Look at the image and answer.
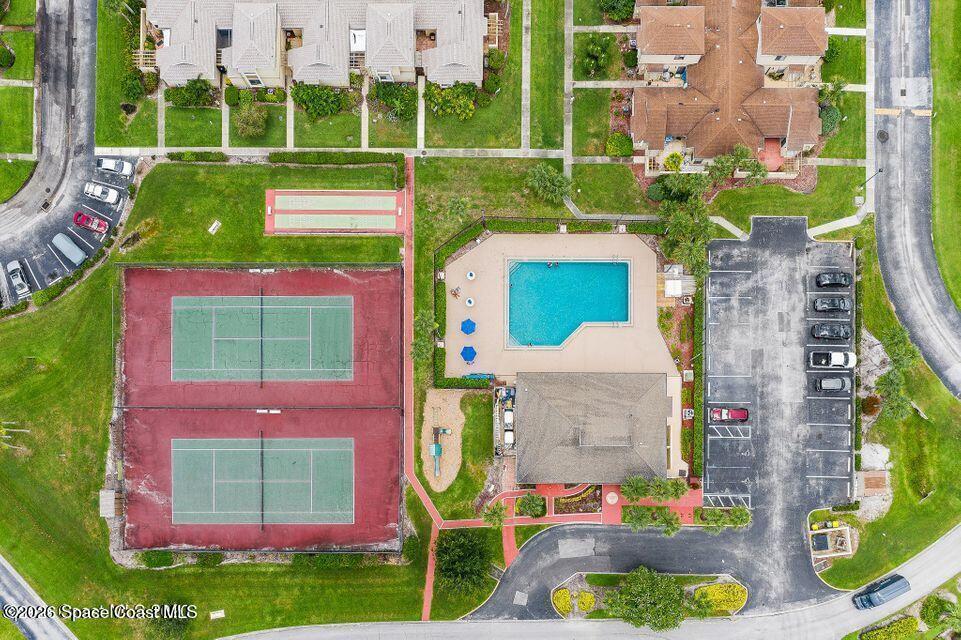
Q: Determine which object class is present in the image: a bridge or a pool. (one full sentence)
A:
Of the two, only a pool appears.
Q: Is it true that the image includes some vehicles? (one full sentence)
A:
Yes, the photo shows a vehicle.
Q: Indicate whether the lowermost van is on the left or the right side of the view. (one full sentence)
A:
The lowermost van sits on the right side.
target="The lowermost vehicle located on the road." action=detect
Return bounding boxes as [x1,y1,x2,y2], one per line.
[854,572,907,606]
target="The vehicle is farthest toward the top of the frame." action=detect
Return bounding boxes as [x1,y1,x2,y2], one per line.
[97,158,136,178]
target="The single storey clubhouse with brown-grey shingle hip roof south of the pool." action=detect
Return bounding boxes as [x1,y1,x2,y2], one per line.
[516,372,673,485]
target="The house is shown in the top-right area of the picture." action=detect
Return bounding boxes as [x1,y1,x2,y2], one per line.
[631,0,825,182]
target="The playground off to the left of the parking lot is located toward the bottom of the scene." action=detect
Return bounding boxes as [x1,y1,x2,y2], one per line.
[429,407,452,477]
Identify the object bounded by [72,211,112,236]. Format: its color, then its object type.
red car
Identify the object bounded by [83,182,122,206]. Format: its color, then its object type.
white car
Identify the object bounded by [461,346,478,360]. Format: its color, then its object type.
blue umbrella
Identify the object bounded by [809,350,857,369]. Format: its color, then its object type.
white vehicle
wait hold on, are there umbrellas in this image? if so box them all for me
[461,346,478,360]
[461,318,475,334]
